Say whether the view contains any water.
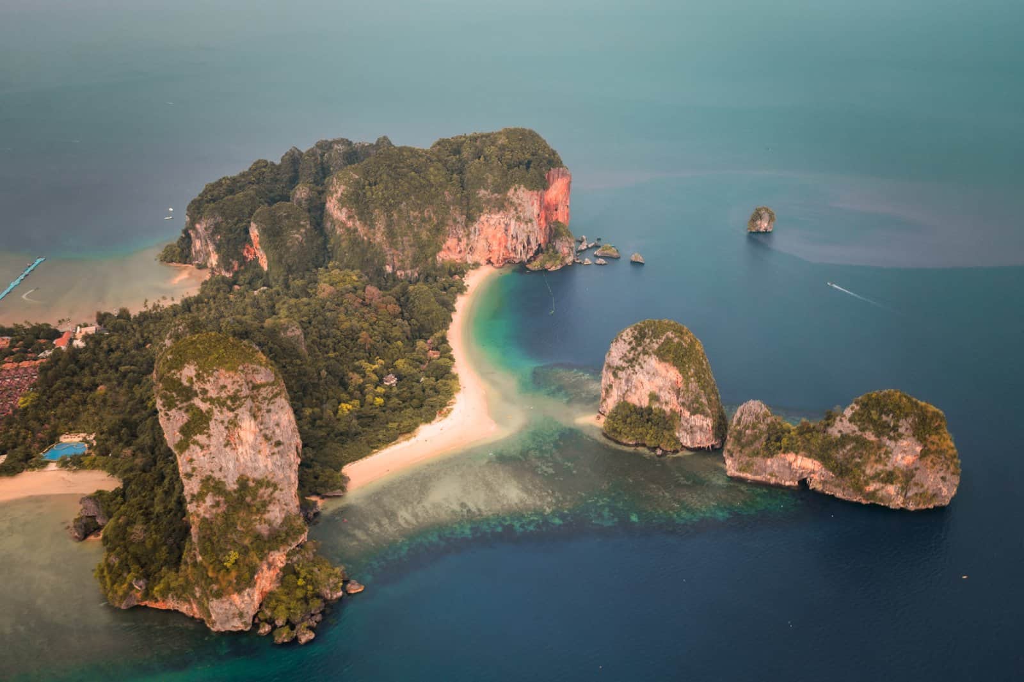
Yes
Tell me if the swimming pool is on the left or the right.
left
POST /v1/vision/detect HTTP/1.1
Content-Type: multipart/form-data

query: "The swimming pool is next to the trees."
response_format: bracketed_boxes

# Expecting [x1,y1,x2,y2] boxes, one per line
[42,438,86,458]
